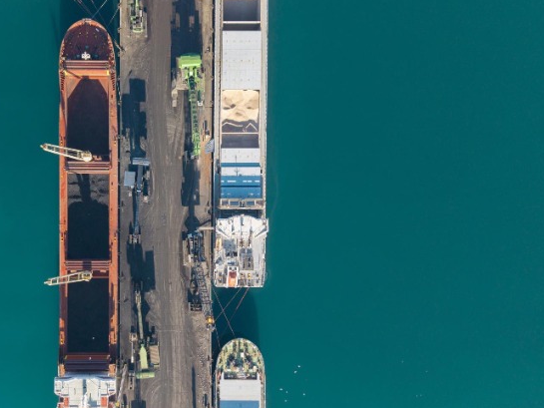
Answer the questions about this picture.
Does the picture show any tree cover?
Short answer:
No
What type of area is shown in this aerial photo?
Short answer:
port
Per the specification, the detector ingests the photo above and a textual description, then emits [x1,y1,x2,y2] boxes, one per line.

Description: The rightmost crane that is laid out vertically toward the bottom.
[182,228,208,316]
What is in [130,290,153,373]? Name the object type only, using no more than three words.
crane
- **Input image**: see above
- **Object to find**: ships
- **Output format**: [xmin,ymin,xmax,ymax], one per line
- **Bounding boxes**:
[212,0,270,288]
[213,338,266,408]
[41,16,118,408]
